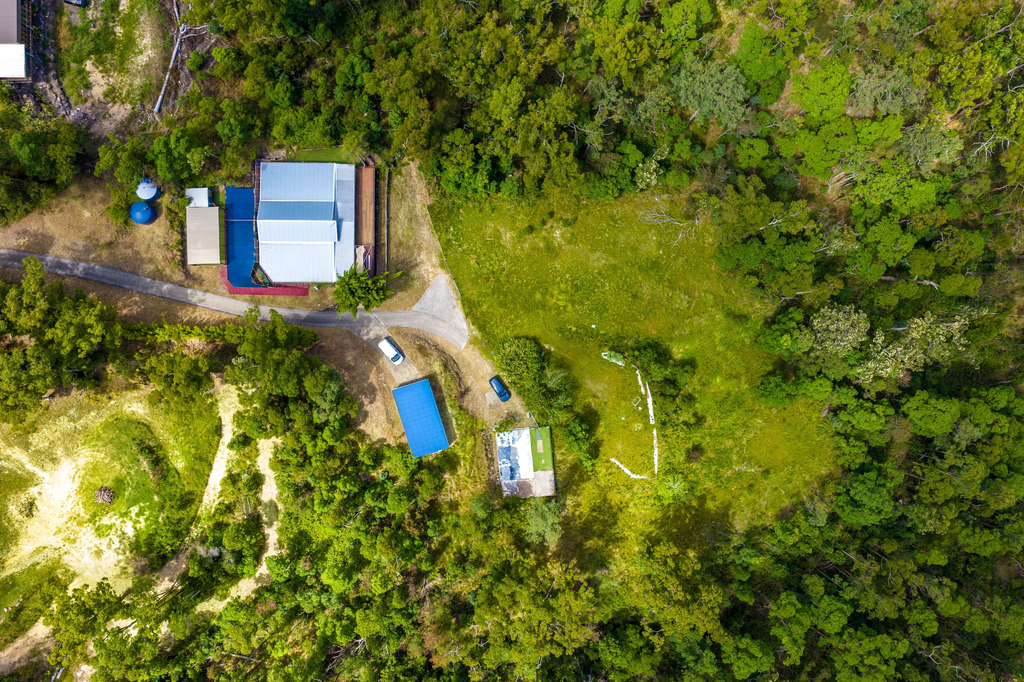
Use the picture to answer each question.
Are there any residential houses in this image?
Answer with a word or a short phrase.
Yes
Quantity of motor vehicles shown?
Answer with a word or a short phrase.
2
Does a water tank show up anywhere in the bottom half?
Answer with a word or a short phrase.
No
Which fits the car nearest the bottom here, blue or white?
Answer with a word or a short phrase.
blue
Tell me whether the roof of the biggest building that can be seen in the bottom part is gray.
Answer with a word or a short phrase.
No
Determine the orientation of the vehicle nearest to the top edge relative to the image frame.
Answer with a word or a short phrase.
diagonally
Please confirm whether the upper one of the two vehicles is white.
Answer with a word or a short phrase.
Yes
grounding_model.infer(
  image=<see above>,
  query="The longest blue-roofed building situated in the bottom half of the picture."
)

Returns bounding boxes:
[392,379,450,459]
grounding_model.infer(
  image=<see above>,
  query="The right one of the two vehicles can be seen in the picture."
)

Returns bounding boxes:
[487,375,511,403]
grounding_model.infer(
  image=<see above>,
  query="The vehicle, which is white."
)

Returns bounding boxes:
[378,337,405,367]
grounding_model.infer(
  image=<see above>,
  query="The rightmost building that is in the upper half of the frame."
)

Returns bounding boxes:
[255,160,376,283]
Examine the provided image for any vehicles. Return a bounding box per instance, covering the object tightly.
[378,337,405,367]
[487,375,511,403]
